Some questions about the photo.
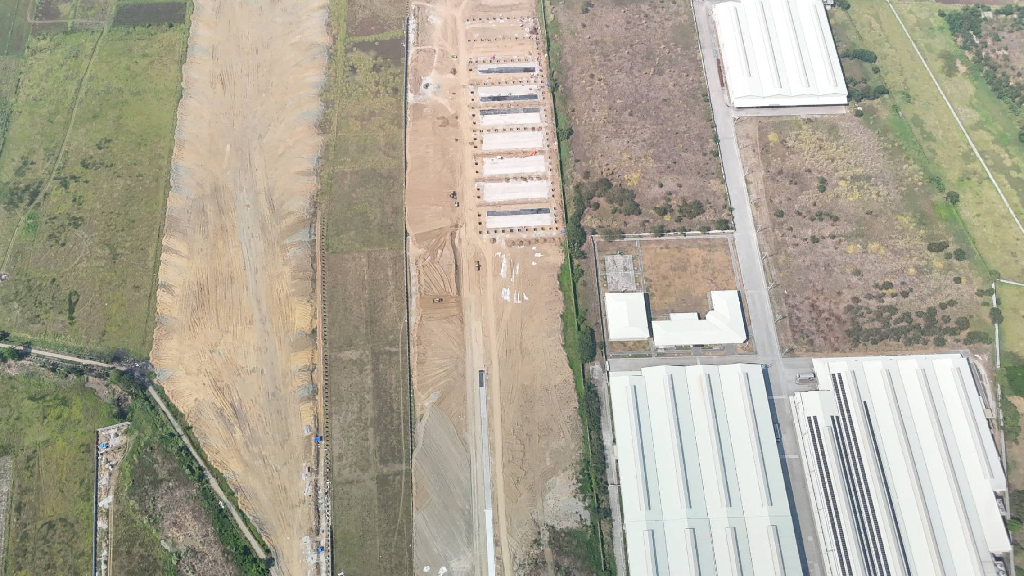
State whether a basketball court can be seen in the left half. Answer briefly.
No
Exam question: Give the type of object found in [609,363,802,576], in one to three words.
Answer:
warehouse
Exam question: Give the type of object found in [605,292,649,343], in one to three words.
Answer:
building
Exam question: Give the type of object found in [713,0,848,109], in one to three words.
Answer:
building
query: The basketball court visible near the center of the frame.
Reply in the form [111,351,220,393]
[605,255,636,292]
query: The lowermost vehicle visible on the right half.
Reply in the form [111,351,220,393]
[773,421,785,442]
